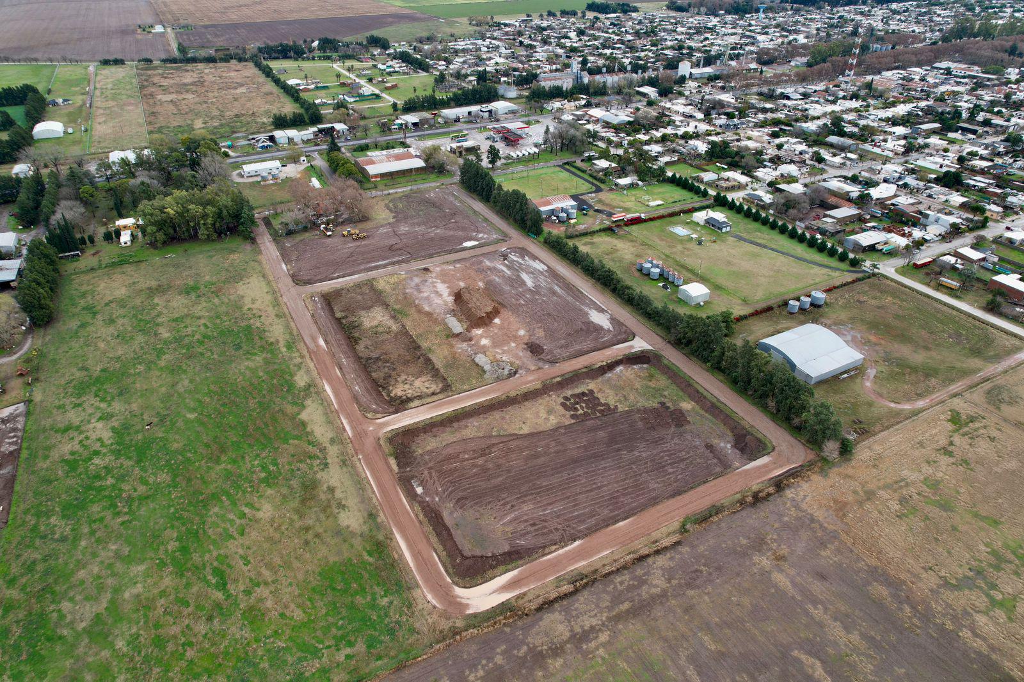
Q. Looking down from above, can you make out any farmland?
Yes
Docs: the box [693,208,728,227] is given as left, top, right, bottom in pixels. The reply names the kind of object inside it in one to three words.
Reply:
house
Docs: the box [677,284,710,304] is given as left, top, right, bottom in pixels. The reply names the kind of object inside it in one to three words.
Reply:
shed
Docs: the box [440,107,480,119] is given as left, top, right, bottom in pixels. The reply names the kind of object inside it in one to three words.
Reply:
building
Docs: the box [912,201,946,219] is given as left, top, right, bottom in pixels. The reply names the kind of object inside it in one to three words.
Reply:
house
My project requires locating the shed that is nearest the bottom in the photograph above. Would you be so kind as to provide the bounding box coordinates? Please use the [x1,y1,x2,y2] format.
[760,324,864,384]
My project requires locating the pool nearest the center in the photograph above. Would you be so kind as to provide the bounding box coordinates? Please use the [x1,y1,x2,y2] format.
[666,225,696,237]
